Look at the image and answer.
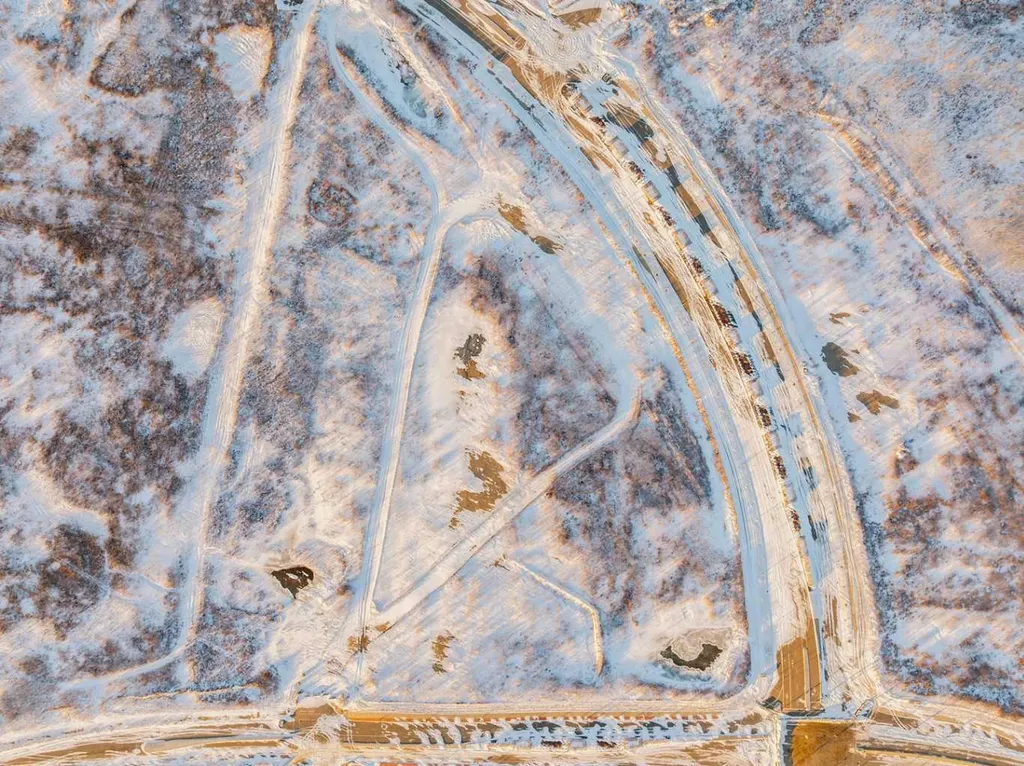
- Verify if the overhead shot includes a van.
No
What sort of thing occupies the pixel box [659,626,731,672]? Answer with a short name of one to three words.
pond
